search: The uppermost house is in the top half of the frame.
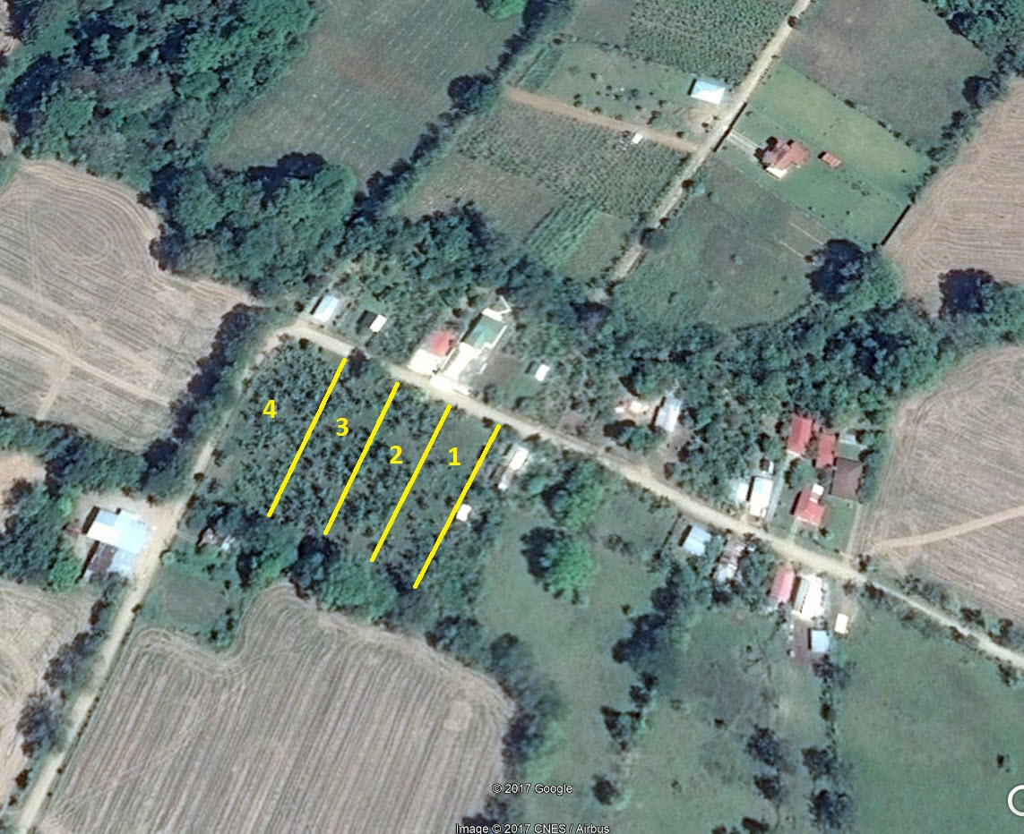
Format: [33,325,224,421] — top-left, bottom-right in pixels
[691,78,725,104]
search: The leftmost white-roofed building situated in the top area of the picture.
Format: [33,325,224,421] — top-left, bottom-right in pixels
[312,295,338,321]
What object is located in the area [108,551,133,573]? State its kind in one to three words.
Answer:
shed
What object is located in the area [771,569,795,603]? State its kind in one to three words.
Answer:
house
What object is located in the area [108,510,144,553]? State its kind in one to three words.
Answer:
house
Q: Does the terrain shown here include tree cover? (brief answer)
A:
Yes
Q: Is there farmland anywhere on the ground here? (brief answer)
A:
Yes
